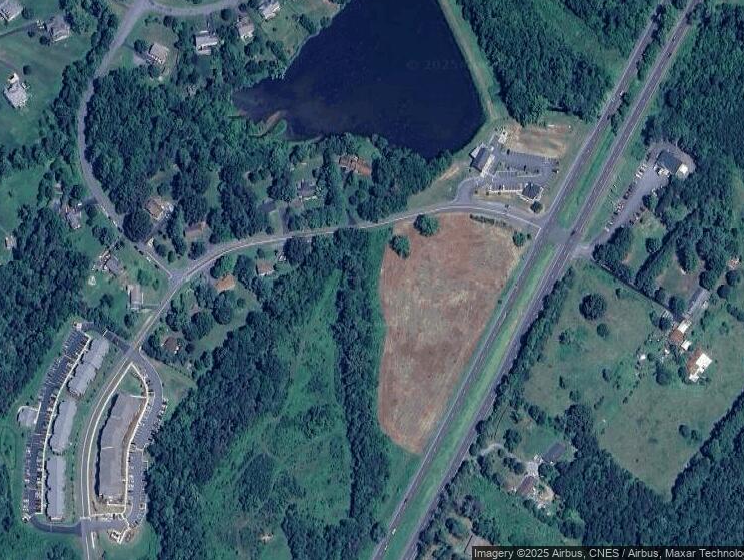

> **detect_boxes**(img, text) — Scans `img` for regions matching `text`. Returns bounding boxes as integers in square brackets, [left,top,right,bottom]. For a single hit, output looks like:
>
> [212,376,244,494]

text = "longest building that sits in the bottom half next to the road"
[97,395,142,501]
